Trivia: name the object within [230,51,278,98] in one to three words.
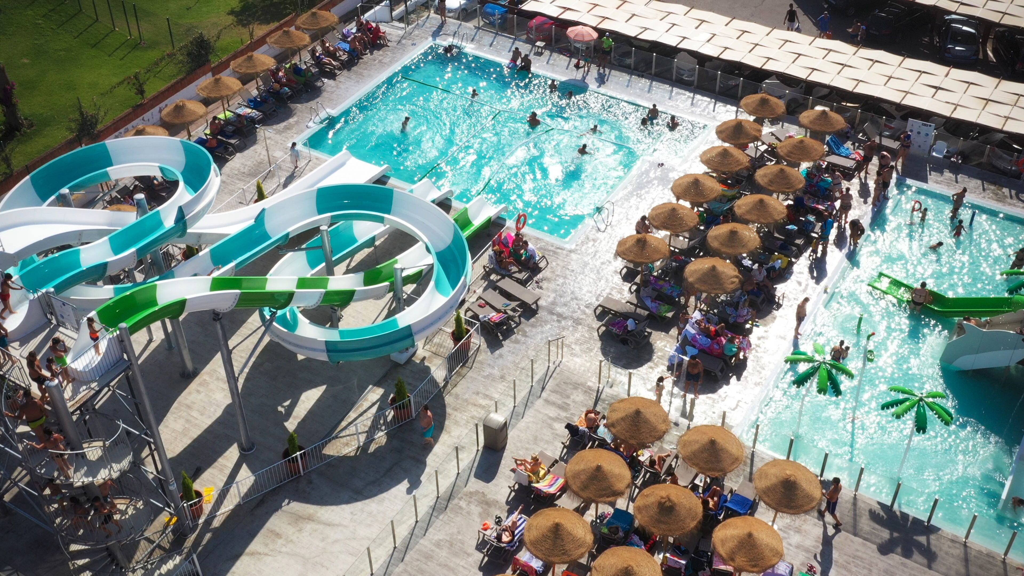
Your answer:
umbrella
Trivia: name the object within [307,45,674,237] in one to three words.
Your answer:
swimming pool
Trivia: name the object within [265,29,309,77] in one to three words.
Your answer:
umbrella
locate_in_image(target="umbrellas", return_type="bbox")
[668,178,720,213]
[701,224,763,265]
[713,521,791,576]
[729,197,787,234]
[675,256,736,314]
[672,429,744,497]
[592,547,665,576]
[632,486,711,560]
[197,73,246,124]
[293,9,337,51]
[750,461,824,538]
[230,51,278,98]
[794,111,847,145]
[755,163,807,204]
[265,29,309,77]
[559,19,602,69]
[614,234,670,293]
[692,146,746,185]
[599,401,670,472]
[717,120,766,154]
[159,101,209,136]
[736,95,788,129]
[515,510,589,576]
[645,205,698,248]
[558,454,633,533]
